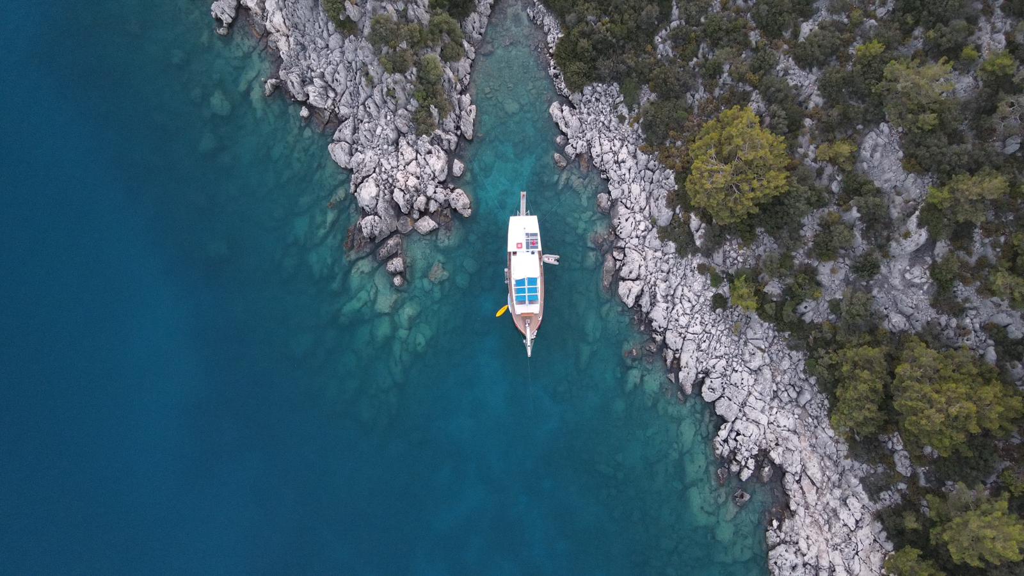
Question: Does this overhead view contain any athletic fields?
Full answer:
No, I find no athletic field anywhere in the image.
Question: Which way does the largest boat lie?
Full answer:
In this picture, the largest boat lies up and down.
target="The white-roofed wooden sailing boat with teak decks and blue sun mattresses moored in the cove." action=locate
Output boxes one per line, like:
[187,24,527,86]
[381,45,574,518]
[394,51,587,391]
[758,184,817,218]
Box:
[505,191,544,358]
